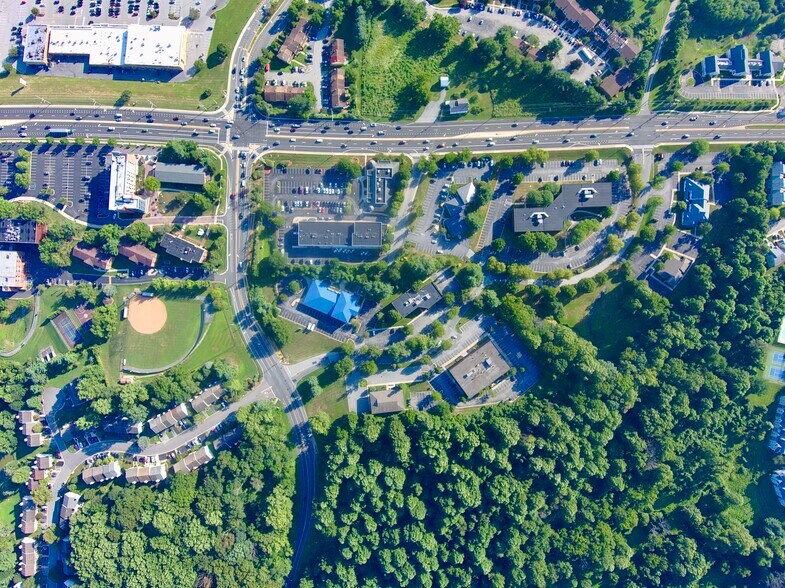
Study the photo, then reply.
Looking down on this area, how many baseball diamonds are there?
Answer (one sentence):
The picture shows just 1 baseball diamond.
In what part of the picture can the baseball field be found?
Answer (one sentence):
The baseball field appears toward the left of the photo.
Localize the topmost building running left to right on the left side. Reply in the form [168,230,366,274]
[24,23,190,71]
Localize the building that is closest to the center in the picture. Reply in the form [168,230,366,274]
[392,282,442,318]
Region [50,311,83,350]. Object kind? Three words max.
tennis court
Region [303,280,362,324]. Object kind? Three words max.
building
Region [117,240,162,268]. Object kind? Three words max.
house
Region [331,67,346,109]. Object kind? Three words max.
building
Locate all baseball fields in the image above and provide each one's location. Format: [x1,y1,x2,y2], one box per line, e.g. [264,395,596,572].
[123,297,202,373]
